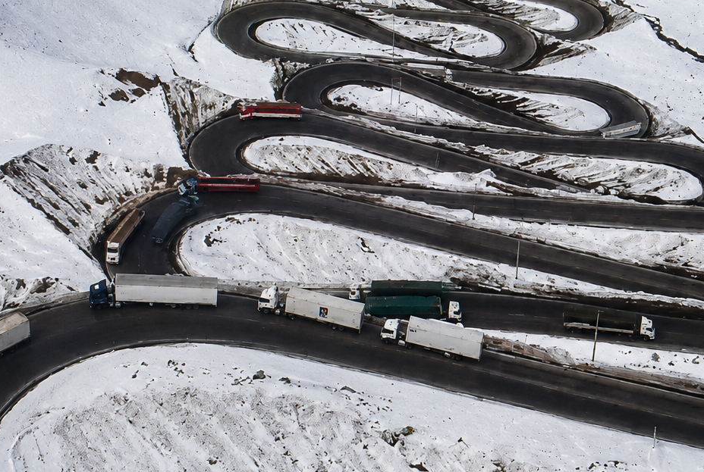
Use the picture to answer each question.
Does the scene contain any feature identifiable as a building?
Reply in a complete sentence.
No, there appears to be no building in this shot.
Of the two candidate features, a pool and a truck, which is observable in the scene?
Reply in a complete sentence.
This aerial view contains a truck.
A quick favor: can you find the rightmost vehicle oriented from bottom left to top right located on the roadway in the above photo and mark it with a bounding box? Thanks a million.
[150,199,196,252]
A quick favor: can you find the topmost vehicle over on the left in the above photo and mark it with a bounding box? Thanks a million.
[238,101,301,122]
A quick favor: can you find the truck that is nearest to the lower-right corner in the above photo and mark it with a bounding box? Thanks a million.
[563,305,657,343]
